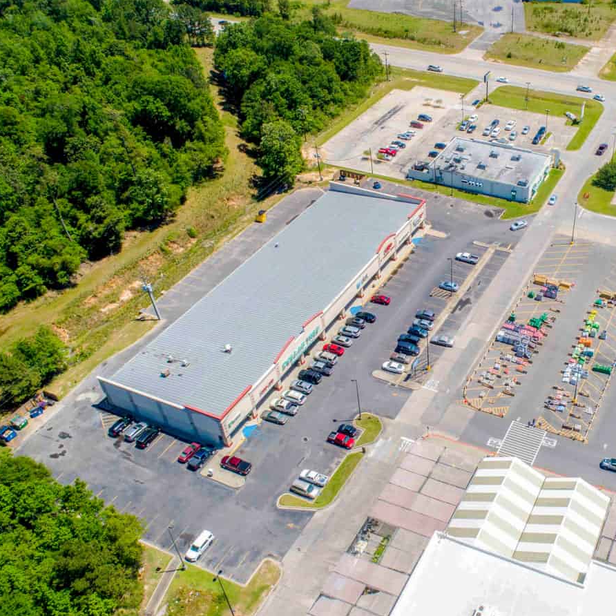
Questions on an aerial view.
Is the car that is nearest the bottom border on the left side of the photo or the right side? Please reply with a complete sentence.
The car that is nearest the bottom border is on the left side of the image.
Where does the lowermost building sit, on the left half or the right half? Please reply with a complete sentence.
You can find the lowermost building on the right side of the picture.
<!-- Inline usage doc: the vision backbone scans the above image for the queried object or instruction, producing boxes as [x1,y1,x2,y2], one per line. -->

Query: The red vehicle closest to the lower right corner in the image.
[325,430,357,450]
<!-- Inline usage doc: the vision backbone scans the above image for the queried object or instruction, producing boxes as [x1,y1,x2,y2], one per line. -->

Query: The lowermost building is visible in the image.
[393,455,616,616]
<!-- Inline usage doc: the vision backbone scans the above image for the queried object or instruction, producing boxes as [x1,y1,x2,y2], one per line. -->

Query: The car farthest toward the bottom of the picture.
[186,531,214,561]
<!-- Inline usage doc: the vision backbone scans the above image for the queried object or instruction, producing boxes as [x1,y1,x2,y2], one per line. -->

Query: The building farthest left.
[97,180,428,454]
